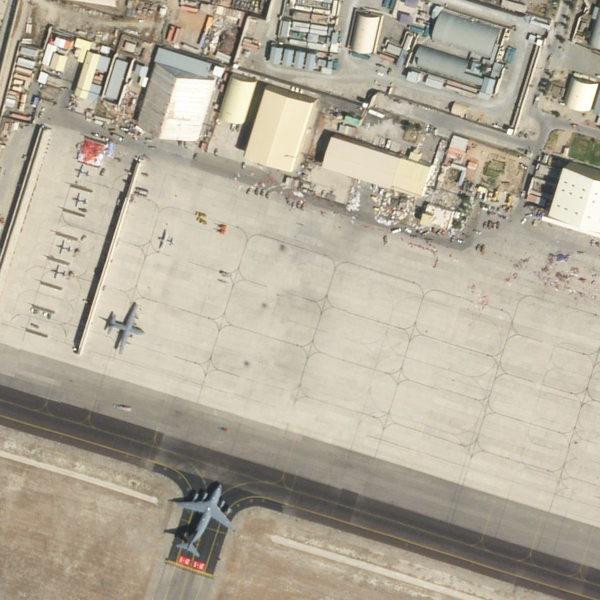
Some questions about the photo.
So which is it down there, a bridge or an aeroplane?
aeroplane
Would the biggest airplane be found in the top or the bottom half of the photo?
bottom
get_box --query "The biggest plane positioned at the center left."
[106,305,144,353]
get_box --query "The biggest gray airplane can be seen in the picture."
[173,487,234,556]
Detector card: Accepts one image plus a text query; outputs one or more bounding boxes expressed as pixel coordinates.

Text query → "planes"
[78,166,92,180]
[160,230,174,250]
[106,305,144,353]
[54,266,68,279]
[57,241,73,255]
[173,487,234,556]
[74,194,89,208]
